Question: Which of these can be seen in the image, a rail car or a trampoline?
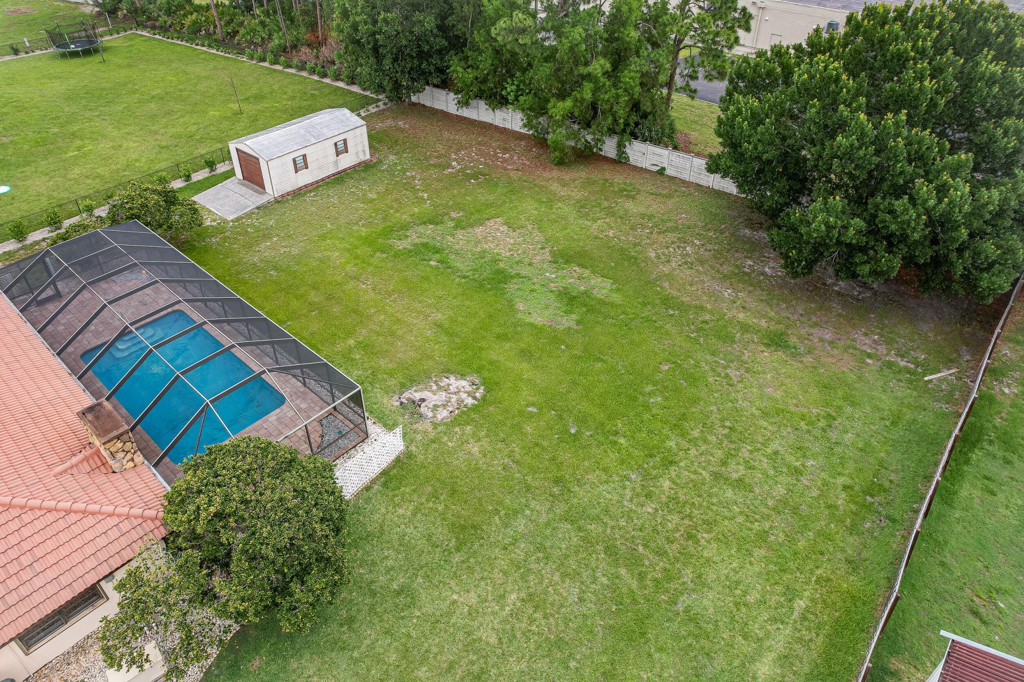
trampoline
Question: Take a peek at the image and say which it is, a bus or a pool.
pool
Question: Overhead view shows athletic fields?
No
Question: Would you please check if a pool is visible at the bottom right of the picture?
No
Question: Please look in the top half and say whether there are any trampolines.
Yes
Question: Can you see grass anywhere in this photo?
Yes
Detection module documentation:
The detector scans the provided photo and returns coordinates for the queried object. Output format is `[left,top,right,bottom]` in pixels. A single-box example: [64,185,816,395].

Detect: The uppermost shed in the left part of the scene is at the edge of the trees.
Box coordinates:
[224,105,366,196]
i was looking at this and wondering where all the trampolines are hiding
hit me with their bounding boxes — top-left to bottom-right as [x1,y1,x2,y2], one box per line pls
[40,18,109,66]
